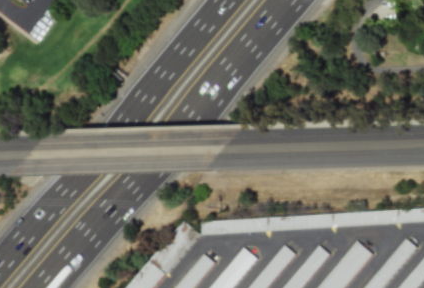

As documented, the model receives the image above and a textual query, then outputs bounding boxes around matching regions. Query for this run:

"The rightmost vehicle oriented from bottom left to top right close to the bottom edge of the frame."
[48,254,84,288]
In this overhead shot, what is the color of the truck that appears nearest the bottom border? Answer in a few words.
white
